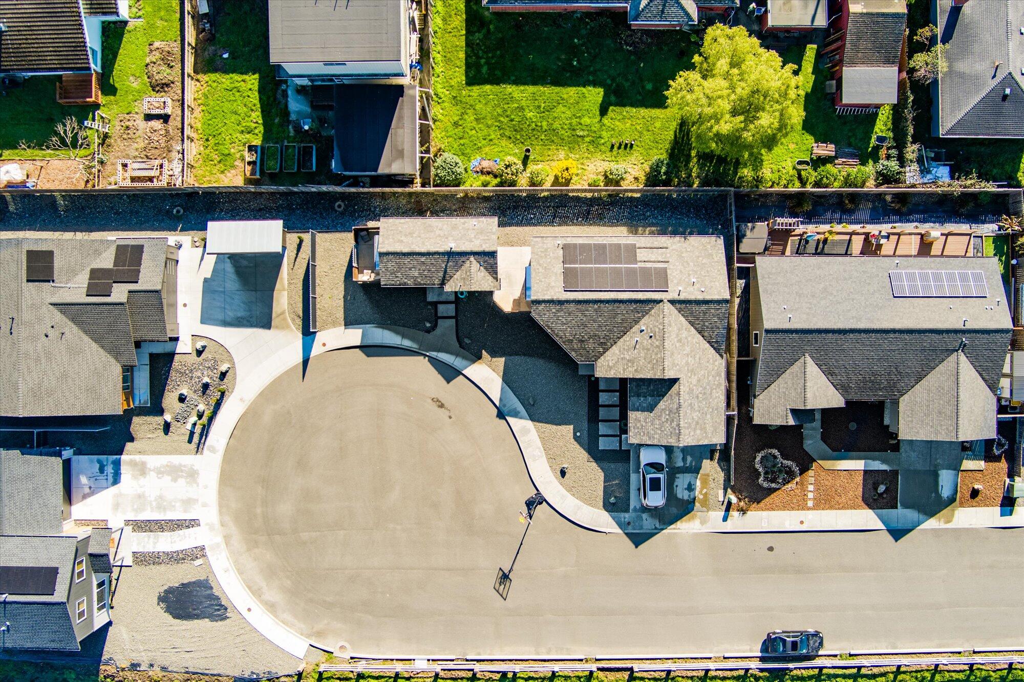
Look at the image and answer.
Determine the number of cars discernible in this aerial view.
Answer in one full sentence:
The number of cars here is 2.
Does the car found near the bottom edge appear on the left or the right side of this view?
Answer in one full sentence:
The car found near the bottom edge is on the right side of the image.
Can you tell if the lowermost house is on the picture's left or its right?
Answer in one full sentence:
It is on the left.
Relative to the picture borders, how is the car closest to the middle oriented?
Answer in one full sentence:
The car closest to the middle is oriented from top to bottom.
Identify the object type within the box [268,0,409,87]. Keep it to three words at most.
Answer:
house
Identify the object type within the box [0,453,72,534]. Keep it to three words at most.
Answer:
building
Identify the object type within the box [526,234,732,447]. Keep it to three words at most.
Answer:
house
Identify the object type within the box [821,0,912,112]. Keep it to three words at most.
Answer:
building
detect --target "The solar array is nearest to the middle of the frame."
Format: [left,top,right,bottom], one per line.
[562,243,669,290]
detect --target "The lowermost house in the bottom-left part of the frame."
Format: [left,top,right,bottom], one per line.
[0,525,127,653]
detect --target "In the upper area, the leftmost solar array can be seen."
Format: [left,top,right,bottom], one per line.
[26,250,66,286]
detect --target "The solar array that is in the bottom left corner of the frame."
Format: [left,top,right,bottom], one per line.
[0,567,59,595]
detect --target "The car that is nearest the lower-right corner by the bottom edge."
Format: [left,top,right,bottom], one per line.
[767,628,822,659]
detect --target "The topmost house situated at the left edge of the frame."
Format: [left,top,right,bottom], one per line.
[0,0,130,81]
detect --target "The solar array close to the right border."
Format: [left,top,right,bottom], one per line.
[889,271,988,296]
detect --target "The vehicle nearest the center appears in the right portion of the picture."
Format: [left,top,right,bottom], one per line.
[639,446,669,508]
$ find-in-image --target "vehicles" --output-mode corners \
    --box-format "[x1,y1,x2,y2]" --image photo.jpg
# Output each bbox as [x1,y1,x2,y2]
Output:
[639,446,669,508]
[767,628,822,659]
